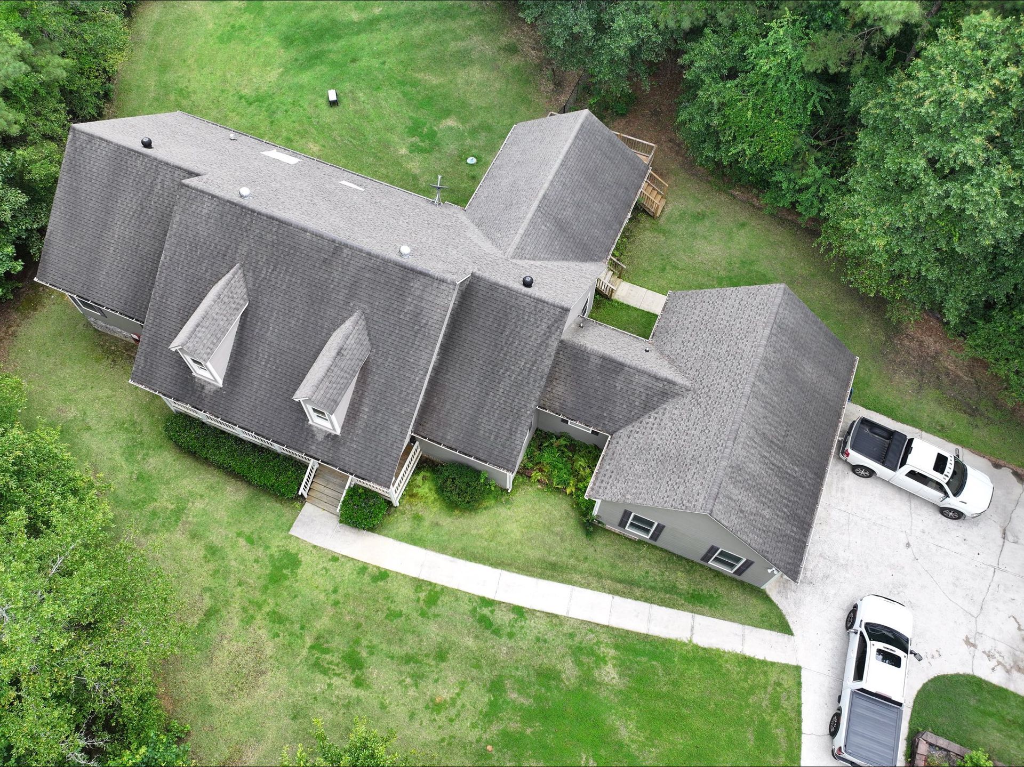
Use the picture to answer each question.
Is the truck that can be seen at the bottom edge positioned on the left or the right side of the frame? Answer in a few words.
right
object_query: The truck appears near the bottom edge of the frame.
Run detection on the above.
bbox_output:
[831,594,931,767]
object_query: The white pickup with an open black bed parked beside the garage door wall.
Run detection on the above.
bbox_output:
[835,411,996,521]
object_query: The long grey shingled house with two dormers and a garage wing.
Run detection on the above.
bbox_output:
[34,109,860,590]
